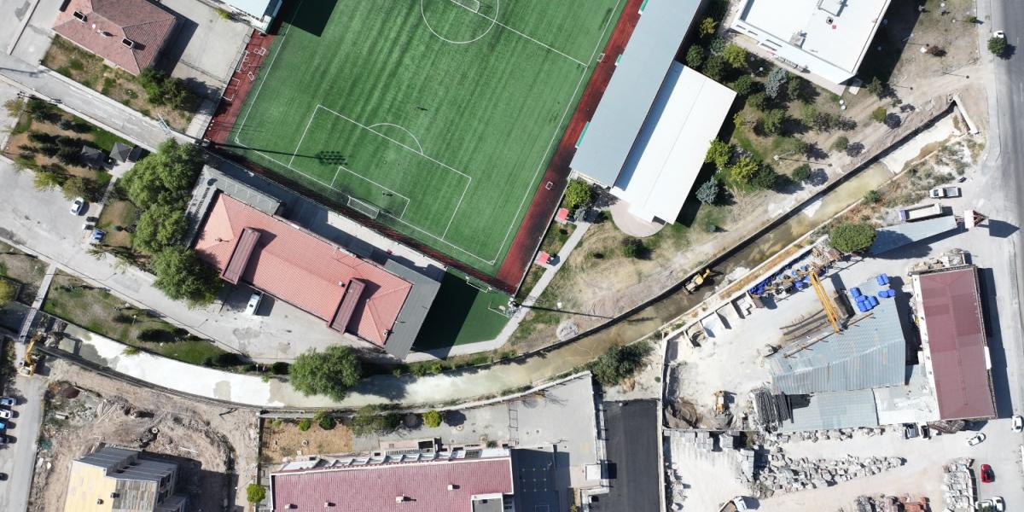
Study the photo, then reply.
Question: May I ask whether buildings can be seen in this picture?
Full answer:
Yes, there's a building here.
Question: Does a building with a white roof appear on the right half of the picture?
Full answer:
Yes, a building with a white roof is visible on the right half of the picture.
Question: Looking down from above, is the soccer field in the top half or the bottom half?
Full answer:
It is in the top half that the soccer field appears.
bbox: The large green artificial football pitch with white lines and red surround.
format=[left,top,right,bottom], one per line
[205,0,649,295]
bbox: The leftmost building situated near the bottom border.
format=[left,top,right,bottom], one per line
[63,450,189,512]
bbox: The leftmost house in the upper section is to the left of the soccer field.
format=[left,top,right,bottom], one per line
[52,0,177,77]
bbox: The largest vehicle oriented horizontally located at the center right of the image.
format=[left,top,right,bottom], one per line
[898,205,943,224]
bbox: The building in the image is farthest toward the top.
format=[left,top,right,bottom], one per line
[226,0,299,35]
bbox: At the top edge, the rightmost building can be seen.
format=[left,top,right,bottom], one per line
[729,0,891,82]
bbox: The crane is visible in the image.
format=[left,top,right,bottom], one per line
[804,267,840,334]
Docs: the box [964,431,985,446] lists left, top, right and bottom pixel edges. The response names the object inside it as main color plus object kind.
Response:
white car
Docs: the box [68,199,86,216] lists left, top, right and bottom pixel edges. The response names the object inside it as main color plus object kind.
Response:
white car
